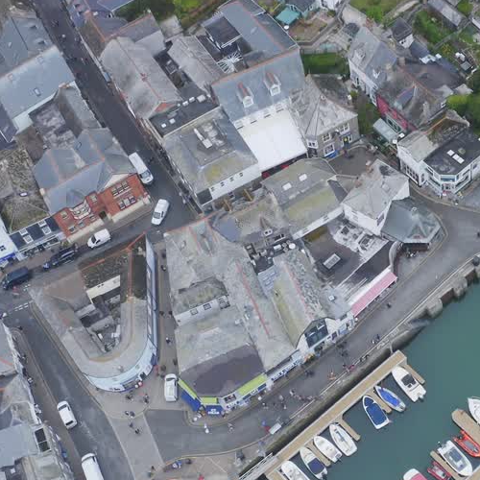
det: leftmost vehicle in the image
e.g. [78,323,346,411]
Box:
[0,263,35,290]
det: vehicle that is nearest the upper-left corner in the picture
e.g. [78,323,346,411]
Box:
[127,148,152,182]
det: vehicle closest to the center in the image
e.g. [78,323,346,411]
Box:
[149,198,170,226]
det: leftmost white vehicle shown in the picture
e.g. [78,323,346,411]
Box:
[58,402,77,428]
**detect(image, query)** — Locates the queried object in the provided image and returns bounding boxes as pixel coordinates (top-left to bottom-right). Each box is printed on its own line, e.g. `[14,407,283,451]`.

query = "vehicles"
[164,374,178,402]
[149,198,170,226]
[44,245,76,269]
[0,263,35,290]
[78,454,104,480]
[127,148,152,182]
[85,224,114,248]
[58,402,77,428]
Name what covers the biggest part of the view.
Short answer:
buildings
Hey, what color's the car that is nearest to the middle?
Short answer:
white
